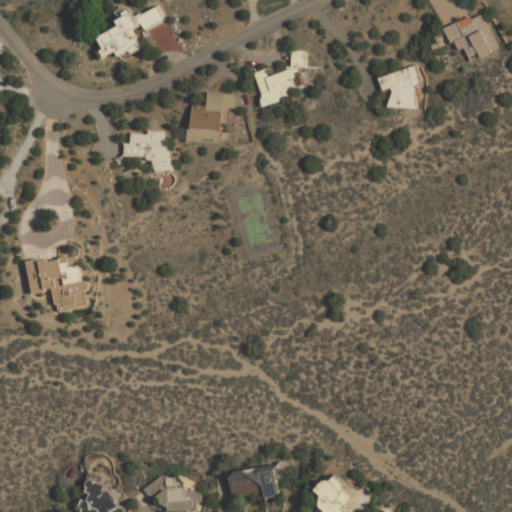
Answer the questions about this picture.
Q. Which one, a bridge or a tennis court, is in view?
tennis court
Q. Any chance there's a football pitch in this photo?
No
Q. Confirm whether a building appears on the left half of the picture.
Yes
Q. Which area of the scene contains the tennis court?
center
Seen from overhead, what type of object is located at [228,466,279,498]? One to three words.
house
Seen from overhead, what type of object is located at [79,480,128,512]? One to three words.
house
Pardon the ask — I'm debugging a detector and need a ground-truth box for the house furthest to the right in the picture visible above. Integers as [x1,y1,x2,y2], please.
[443,15,500,62]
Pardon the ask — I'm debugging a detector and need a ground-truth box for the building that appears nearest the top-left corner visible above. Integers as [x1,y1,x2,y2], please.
[97,4,166,60]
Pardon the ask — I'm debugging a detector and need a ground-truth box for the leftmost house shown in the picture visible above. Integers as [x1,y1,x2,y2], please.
[26,256,89,311]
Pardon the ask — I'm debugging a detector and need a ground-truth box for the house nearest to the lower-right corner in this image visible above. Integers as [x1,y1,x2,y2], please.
[312,474,350,512]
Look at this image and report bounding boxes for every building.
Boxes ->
[26,256,89,311]
[378,66,419,110]
[228,466,279,498]
[79,480,128,512]
[186,91,236,144]
[312,474,350,512]
[255,51,308,108]
[143,475,203,512]
[97,4,166,60]
[123,131,175,173]
[443,15,500,62]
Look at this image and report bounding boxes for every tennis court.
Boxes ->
[232,182,282,258]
